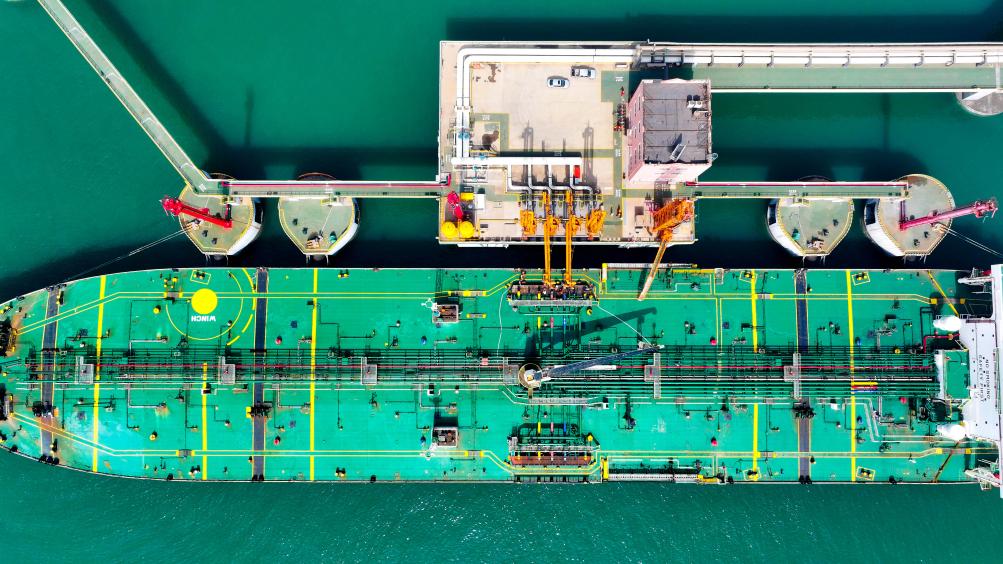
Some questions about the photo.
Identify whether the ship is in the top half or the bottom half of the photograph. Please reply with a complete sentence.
The ship sits in the bottom half of the picture.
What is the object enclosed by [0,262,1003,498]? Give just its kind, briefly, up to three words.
ship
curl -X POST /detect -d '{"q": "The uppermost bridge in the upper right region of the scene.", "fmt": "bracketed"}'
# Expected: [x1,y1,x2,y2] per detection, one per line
[637,41,1003,94]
